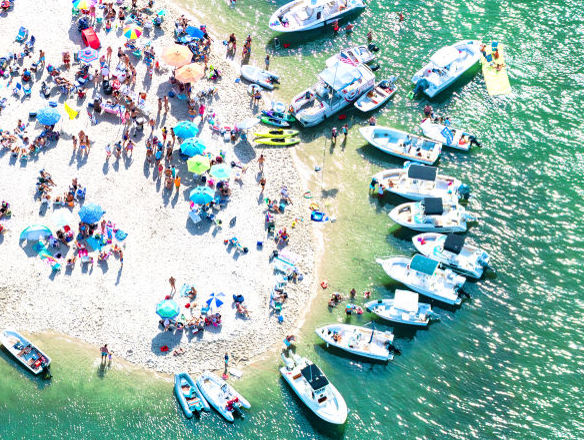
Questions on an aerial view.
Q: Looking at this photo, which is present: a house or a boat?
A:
boat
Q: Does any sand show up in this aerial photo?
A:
Yes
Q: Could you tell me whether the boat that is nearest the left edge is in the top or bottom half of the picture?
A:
bottom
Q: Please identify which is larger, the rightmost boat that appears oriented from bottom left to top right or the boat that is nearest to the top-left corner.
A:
the rightmost boat that appears oriented from bottom left to top right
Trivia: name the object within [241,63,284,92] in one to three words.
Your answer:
boat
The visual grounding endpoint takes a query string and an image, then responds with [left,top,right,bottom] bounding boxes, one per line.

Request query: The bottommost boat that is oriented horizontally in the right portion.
[317,324,405,364]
